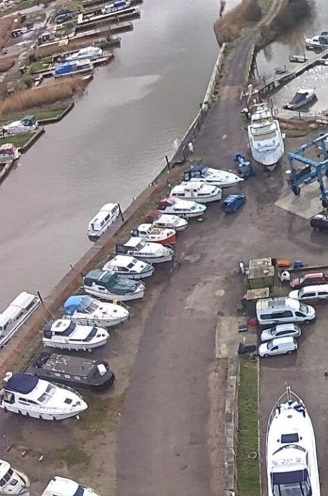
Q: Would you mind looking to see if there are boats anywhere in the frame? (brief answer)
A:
Yes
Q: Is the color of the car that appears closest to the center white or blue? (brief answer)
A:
blue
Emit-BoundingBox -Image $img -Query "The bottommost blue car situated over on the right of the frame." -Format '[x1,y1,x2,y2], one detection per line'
[222,193,249,213]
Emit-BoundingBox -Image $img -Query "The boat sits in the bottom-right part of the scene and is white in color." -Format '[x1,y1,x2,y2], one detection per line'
[266,378,328,496]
